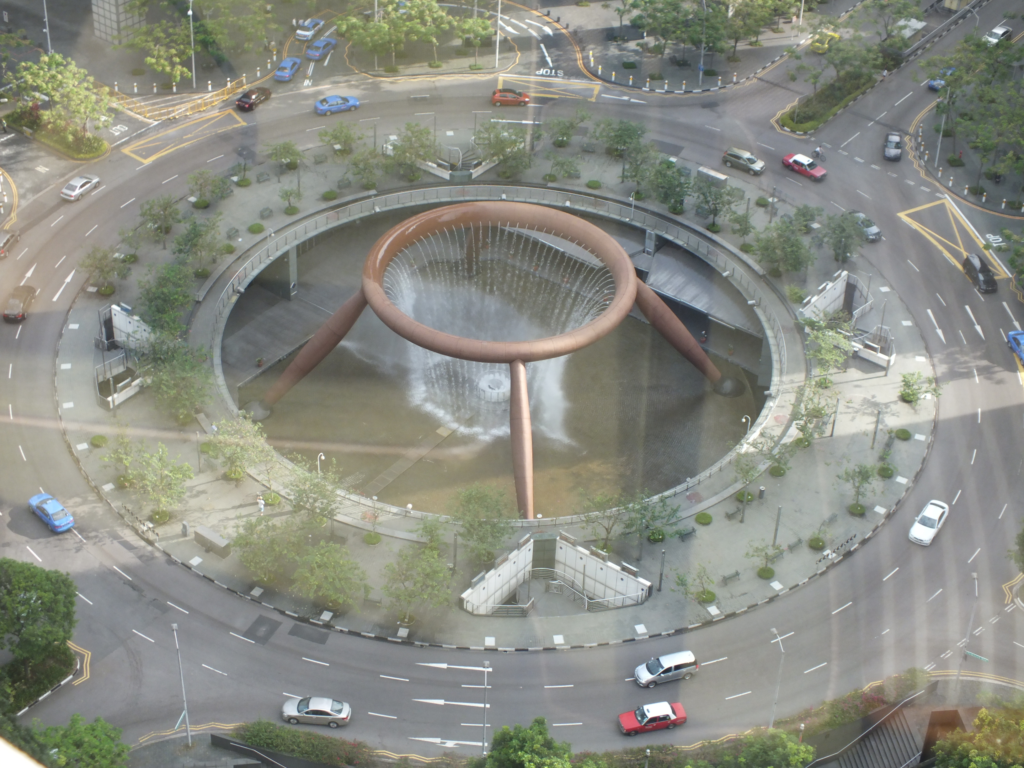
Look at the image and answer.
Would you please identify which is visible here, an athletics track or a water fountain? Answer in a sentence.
The image shows a water fountain.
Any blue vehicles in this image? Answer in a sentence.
Yes, there's a blue vehicle down there.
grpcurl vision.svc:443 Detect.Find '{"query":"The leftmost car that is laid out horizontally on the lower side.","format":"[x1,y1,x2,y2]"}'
[280,693,352,728]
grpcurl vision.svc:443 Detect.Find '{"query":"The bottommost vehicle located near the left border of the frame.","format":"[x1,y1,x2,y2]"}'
[26,492,76,532]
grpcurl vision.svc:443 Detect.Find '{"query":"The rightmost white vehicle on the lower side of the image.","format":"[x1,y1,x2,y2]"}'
[910,497,950,541]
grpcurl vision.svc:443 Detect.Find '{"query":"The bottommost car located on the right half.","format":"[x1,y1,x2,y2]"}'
[613,699,684,737]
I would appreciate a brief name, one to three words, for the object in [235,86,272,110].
car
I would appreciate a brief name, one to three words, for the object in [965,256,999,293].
car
